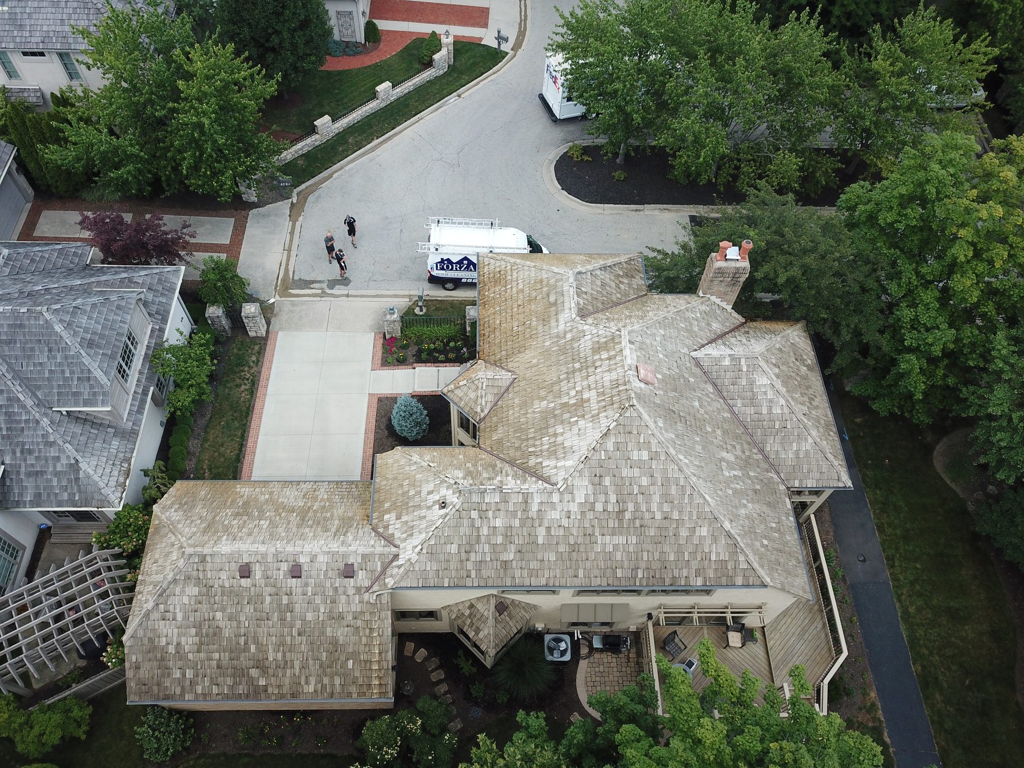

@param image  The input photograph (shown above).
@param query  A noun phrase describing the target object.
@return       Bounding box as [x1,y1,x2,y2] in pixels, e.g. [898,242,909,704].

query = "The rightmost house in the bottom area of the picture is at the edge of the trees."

[122,237,857,711]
